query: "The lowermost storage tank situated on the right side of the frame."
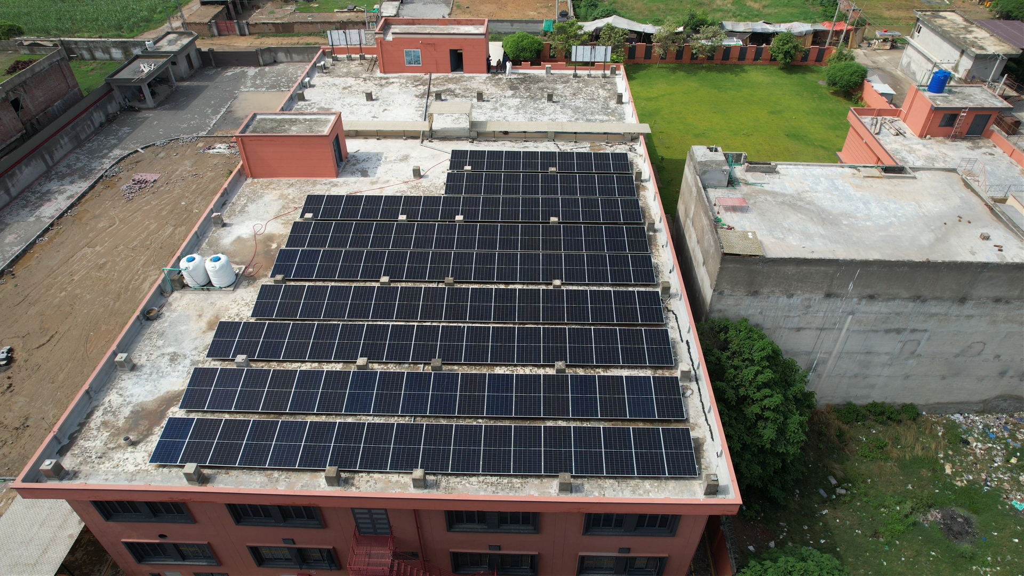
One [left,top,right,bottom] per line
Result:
[683,145,729,188]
